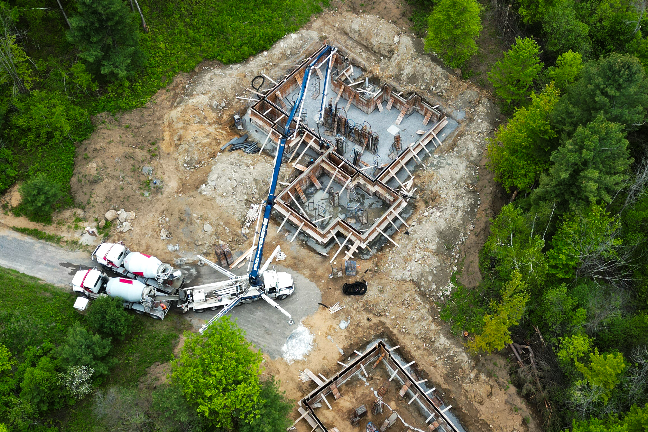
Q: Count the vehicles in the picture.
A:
3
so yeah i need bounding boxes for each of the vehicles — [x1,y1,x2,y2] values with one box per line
[67,268,182,322]
[84,240,188,299]
[178,44,338,331]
